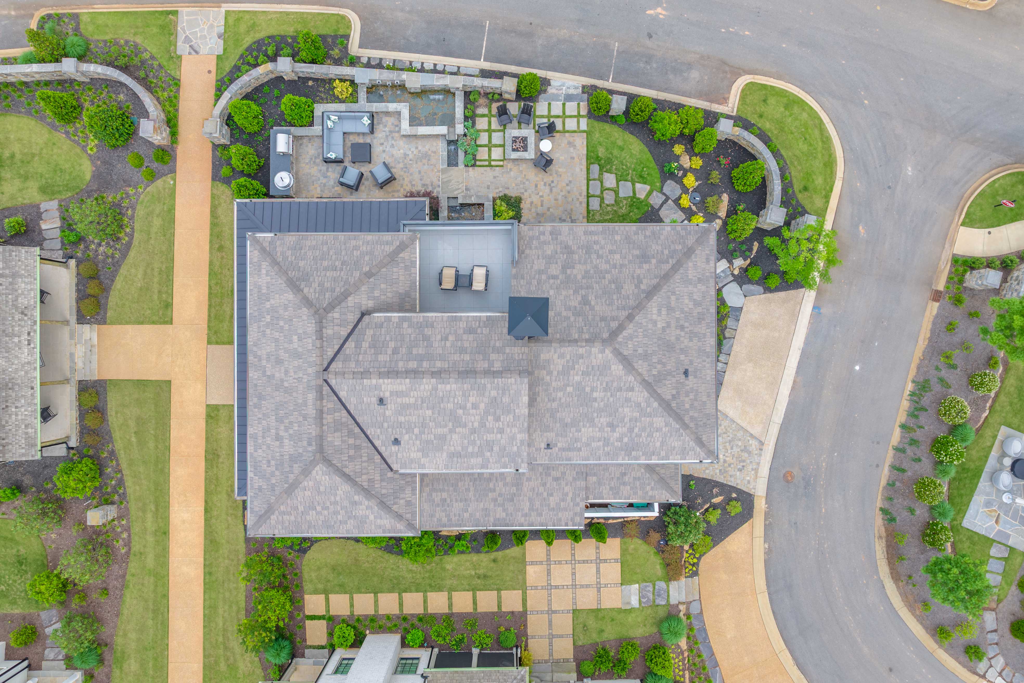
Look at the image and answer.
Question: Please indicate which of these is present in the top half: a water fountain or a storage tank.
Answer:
water fountain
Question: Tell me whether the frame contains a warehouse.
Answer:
No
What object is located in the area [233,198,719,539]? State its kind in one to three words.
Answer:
house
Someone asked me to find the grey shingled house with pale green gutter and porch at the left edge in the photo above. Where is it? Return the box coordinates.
[0,245,98,461]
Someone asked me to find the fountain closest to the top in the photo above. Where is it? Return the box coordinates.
[274,81,465,141]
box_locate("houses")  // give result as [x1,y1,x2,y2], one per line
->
[259,633,531,683]
[0,245,98,461]
[233,198,719,539]
[0,641,87,683]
